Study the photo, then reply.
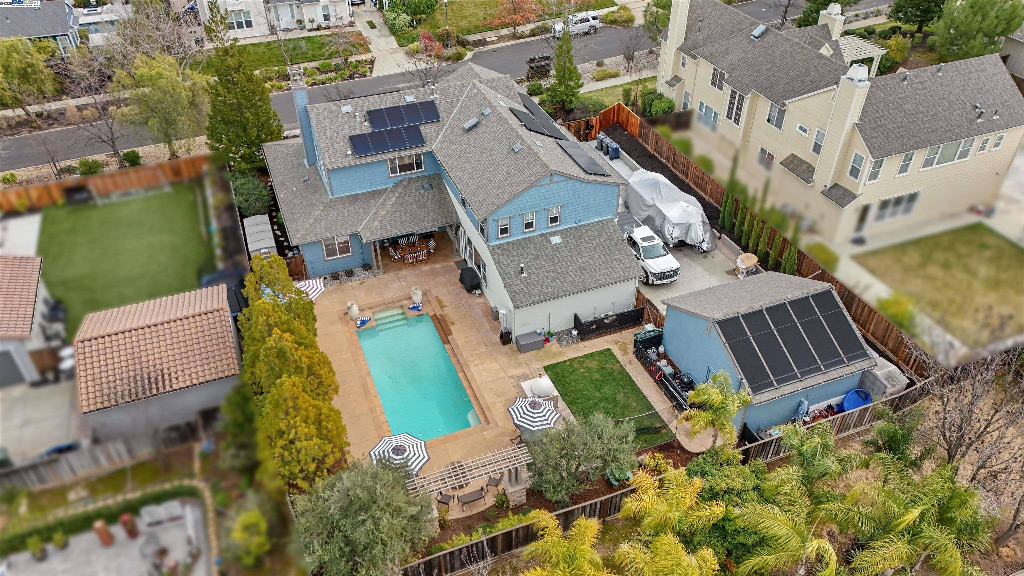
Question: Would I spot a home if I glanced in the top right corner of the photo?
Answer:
Yes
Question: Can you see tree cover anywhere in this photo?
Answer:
Yes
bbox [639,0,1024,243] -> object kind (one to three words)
house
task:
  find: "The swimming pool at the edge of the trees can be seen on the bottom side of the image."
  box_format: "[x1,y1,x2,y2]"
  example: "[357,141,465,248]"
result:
[358,306,480,442]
